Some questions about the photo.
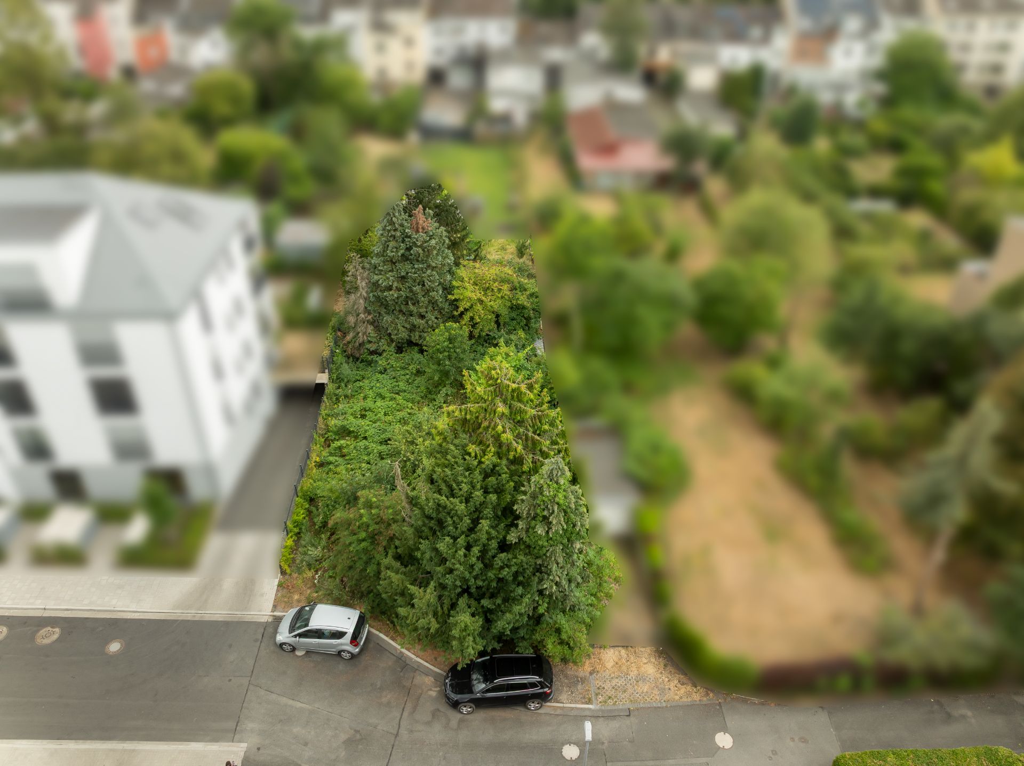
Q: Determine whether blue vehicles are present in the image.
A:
No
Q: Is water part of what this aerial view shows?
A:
No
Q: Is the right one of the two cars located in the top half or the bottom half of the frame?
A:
bottom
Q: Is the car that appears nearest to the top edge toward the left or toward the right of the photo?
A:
left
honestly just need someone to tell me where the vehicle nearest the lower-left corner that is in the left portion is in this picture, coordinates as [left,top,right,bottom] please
[271,603,366,660]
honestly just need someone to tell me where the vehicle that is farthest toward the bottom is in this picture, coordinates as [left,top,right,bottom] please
[445,655,555,715]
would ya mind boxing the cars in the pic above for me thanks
[271,603,366,660]
[445,655,555,715]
